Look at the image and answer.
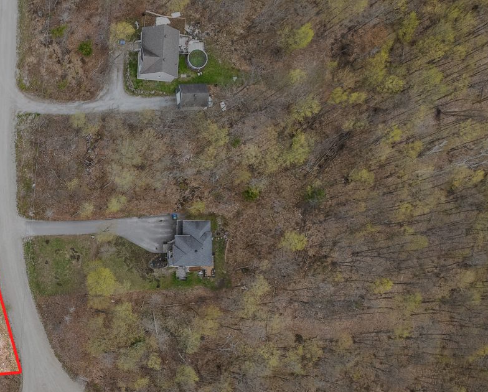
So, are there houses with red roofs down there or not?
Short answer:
No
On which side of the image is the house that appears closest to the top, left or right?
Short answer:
left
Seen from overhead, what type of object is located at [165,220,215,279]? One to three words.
house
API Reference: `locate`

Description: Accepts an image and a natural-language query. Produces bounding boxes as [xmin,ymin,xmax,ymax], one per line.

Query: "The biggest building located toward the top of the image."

[133,26,207,83]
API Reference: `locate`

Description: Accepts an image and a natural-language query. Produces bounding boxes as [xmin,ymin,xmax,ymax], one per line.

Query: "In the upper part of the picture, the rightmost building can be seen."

[176,84,208,110]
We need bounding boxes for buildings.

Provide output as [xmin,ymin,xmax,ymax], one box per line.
[165,220,215,279]
[133,26,207,83]
[176,84,208,110]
